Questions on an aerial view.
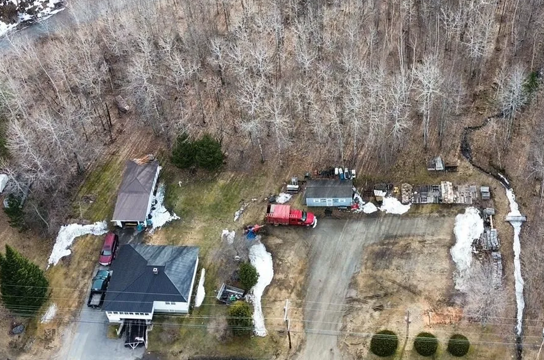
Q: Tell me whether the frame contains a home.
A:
Yes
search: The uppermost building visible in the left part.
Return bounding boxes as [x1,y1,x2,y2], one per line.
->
[109,155,160,230]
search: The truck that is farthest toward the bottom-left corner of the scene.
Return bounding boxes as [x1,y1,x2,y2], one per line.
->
[84,269,116,312]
